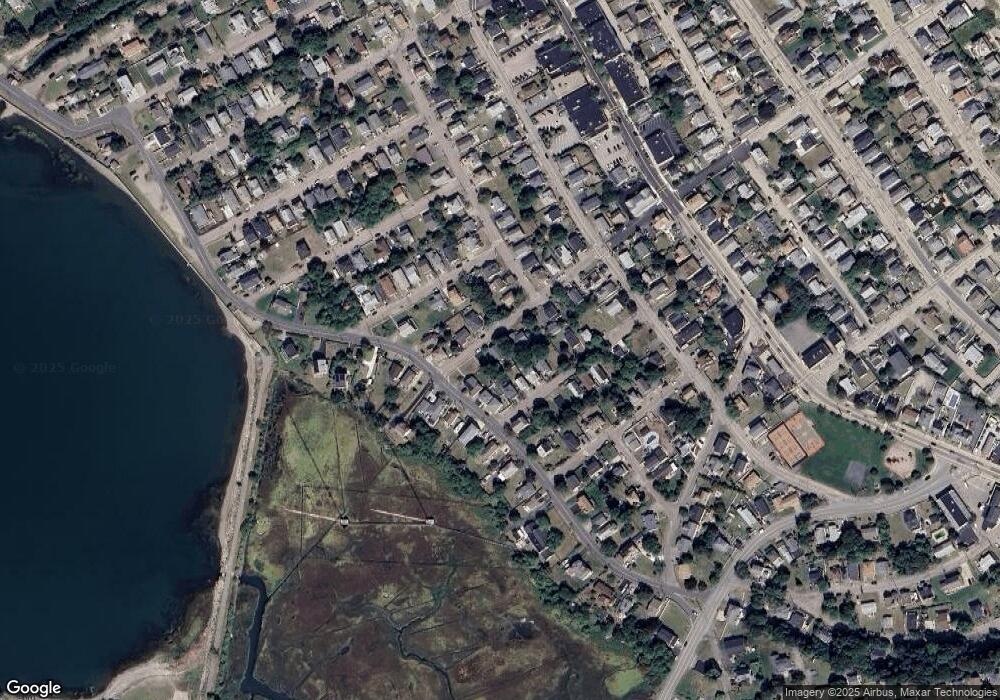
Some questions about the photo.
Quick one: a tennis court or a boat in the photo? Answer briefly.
tennis court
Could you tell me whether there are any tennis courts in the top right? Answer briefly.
No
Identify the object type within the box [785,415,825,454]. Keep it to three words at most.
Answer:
sports court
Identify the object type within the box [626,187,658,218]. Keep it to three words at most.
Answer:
building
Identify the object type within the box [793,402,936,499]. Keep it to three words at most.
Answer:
sports field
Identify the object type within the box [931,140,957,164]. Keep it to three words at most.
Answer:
house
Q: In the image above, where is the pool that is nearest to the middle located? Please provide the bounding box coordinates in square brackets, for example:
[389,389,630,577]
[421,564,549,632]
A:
[644,431,661,446]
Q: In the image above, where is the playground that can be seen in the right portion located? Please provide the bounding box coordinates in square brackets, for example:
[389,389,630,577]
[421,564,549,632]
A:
[885,444,917,476]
